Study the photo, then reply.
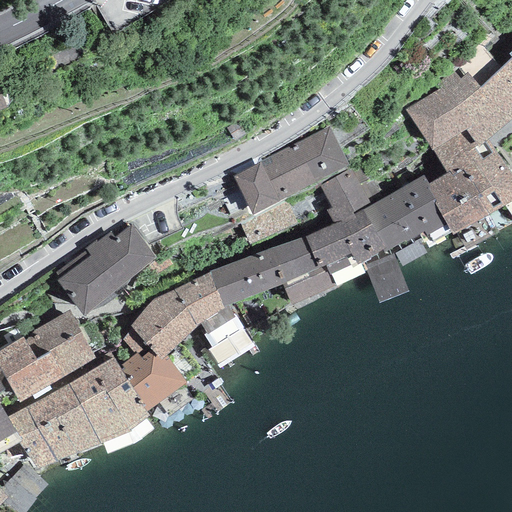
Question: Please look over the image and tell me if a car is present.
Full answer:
Yes, a car appears in the view.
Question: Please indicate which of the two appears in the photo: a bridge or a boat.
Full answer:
Looking from above, you can make out a boat.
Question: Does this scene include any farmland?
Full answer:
No, farmland can't be seen anywhere here.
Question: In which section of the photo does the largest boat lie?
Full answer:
Look in the right portion of the view to spot the largest boat.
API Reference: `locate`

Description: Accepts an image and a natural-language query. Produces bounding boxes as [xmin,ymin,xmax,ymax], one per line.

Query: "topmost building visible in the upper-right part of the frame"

[406,58,512,148]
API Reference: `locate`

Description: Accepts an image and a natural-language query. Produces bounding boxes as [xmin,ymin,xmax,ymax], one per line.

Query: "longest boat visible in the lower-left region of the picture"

[66,459,90,471]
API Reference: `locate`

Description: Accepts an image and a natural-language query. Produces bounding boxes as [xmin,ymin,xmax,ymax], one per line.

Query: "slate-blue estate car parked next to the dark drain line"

[300,93,322,112]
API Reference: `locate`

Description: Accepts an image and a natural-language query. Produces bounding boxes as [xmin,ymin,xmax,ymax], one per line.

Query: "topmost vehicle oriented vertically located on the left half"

[154,210,168,234]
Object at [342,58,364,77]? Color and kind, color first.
white car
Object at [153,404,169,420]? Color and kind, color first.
white umbrella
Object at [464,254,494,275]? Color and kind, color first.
white boat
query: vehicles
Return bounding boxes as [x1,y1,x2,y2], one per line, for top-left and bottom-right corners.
[154,210,168,234]
[362,39,383,58]
[47,234,68,250]
[68,216,91,234]
[342,58,364,77]
[396,0,416,18]
[1,264,23,279]
[300,93,322,112]
[123,0,146,12]
[94,202,118,218]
